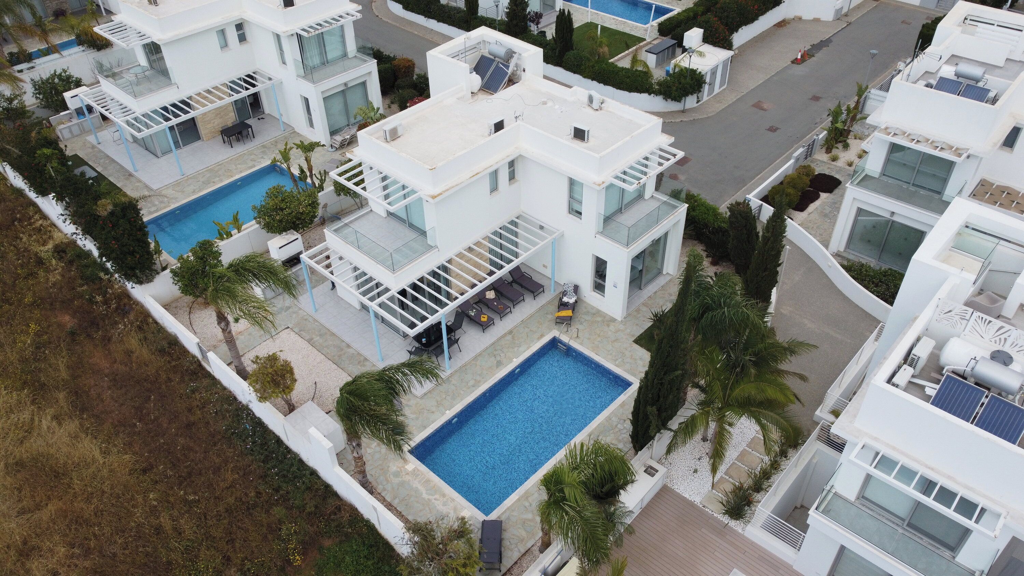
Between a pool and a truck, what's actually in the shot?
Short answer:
pool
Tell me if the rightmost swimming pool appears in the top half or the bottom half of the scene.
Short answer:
top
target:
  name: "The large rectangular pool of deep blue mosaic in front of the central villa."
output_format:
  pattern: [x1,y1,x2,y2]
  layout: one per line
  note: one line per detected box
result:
[398,319,638,525]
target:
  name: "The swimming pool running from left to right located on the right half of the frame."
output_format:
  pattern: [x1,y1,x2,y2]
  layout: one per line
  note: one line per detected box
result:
[571,0,675,27]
